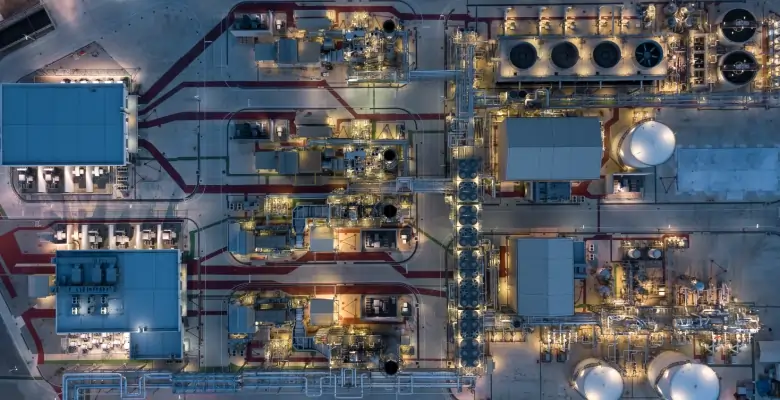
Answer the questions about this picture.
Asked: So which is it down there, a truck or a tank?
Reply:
tank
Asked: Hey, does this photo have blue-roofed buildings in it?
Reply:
Yes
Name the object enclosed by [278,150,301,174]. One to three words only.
house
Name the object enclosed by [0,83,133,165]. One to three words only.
building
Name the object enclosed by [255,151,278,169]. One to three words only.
house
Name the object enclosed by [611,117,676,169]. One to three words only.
storage tank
